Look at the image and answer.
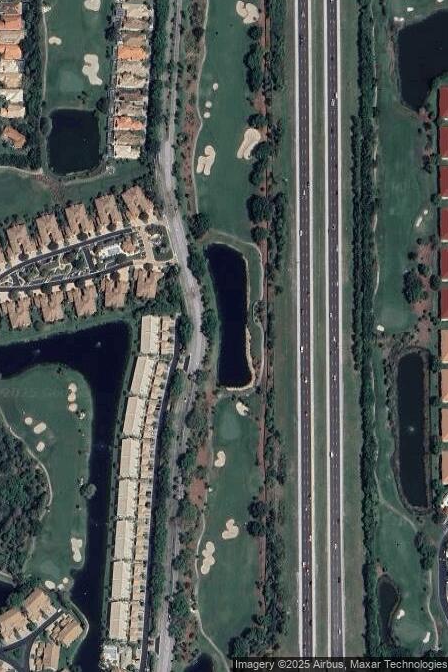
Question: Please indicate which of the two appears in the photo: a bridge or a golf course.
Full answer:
Visible in the photo is a golf course.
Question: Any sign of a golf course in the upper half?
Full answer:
Yes, the scene does show a golf course in the upper half.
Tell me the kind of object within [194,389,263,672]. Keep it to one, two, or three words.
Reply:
golf course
